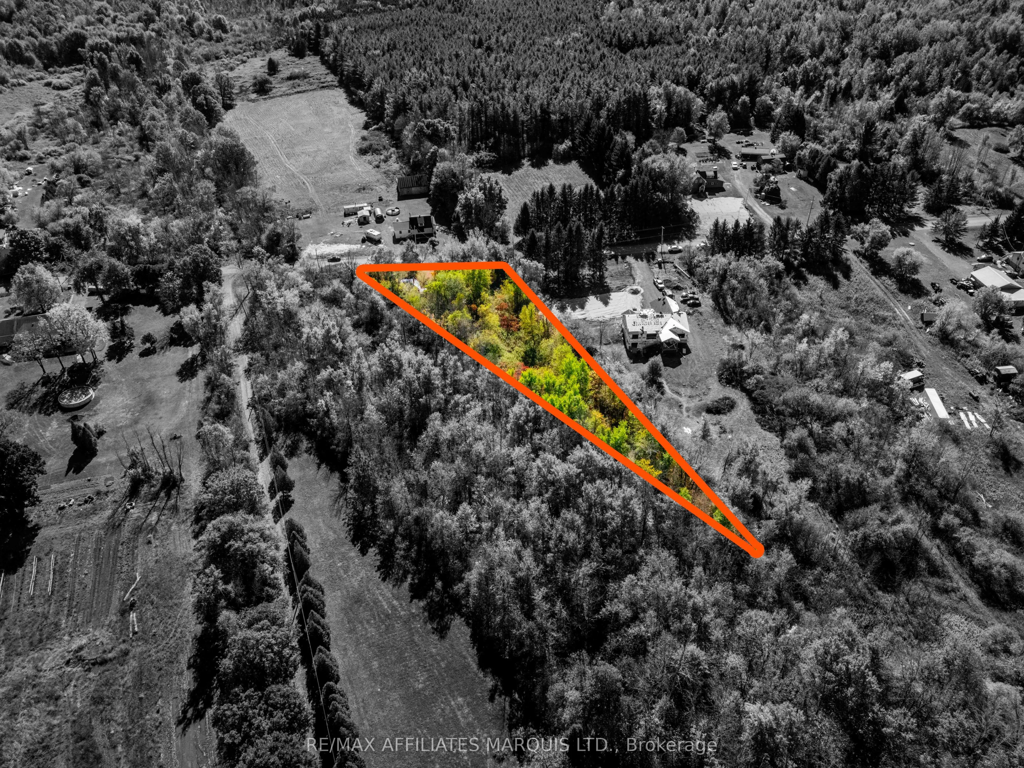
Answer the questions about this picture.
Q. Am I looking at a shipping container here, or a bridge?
shipping container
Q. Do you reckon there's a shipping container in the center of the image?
No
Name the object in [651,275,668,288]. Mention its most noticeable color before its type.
white vehicle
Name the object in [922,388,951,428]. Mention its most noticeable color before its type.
white shipping container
